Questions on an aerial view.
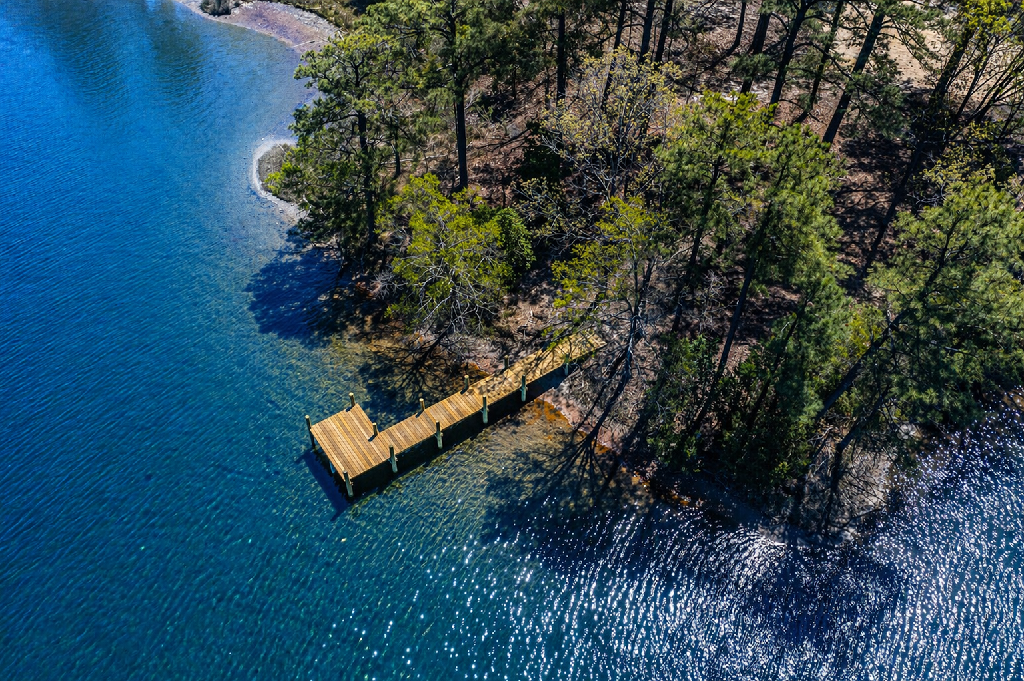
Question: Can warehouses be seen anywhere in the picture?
No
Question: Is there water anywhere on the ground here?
Yes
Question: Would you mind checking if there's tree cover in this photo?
Yes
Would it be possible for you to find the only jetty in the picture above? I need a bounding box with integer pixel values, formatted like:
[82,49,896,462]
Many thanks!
[311,328,607,502]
